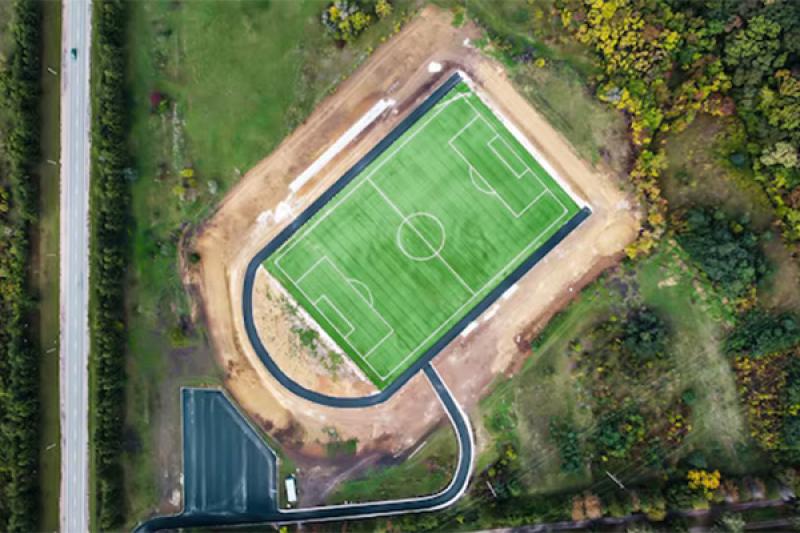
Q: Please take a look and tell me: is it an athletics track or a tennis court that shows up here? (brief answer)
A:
athletics track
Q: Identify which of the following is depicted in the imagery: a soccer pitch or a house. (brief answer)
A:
soccer pitch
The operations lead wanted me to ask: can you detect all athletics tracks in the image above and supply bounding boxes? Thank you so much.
[242,73,591,408]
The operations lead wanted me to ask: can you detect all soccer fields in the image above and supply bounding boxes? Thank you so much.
[263,80,580,391]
